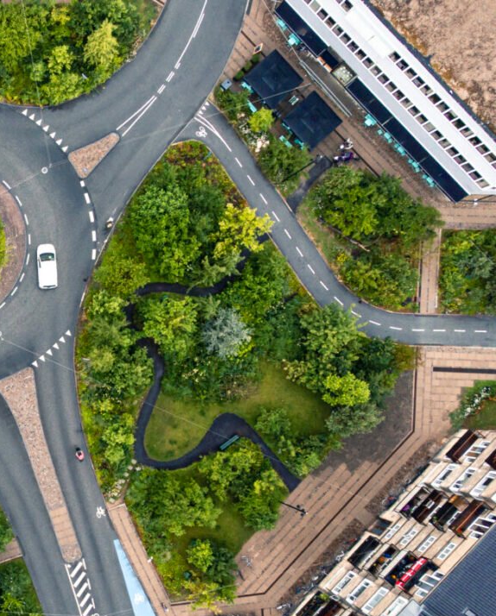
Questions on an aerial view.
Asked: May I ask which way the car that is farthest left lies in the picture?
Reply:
from top to bottom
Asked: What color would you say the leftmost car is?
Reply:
white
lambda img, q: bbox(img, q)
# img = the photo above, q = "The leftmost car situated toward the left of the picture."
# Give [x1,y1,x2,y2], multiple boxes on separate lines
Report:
[36,245,59,289]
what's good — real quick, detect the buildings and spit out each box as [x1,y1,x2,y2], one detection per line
[257,0,496,201]
[284,427,496,616]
